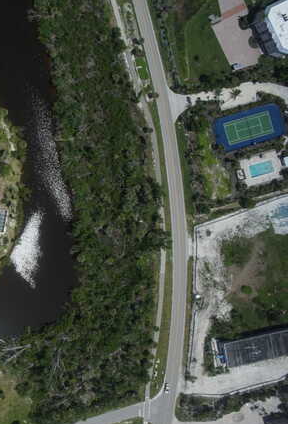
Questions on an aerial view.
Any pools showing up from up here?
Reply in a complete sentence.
Yes, there's a pool here.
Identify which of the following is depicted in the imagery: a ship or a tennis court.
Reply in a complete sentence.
Looking from above, you can make out a tennis court.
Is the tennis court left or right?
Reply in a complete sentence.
The tennis court appears in the right half of the scene.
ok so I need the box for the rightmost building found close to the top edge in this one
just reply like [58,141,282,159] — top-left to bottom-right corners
[246,0,288,66]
